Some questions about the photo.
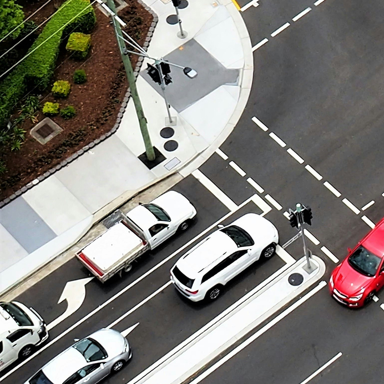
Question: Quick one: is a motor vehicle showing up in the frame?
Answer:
Yes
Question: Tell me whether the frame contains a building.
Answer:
No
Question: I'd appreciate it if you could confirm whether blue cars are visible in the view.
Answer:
No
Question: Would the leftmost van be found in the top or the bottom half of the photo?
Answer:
bottom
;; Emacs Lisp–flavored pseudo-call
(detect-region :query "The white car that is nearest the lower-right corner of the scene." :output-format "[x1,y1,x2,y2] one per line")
[170,212,280,305]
